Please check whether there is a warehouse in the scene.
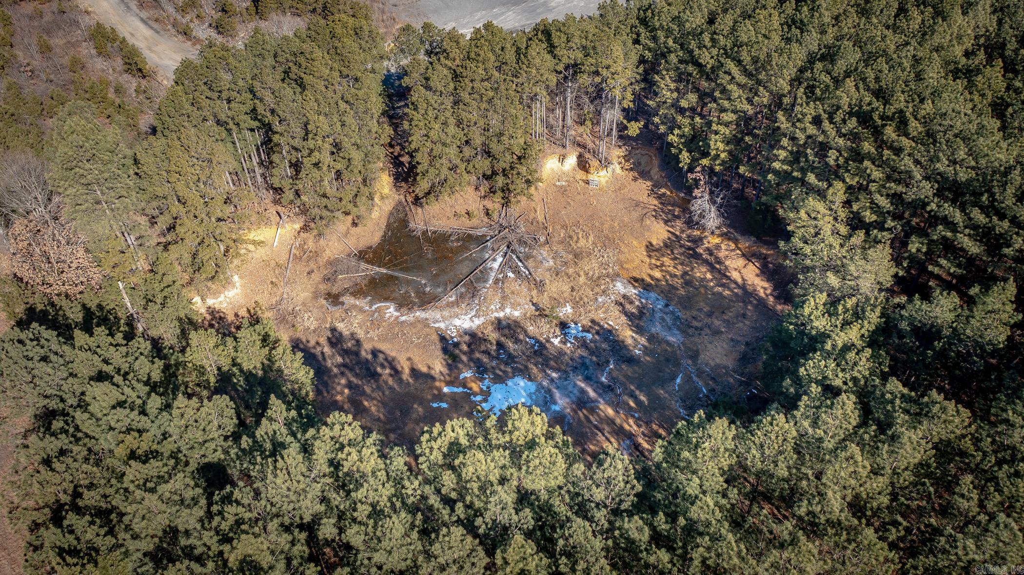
No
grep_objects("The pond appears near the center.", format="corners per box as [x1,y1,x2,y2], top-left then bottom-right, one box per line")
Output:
[324,217,519,313]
